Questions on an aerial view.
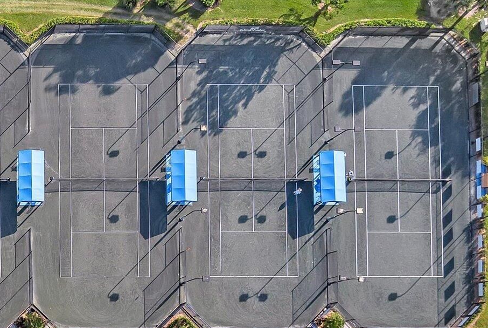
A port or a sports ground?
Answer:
sports ground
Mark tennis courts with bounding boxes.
[29,33,182,328]
[0,35,32,328]
[323,35,472,328]
[177,33,329,328]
